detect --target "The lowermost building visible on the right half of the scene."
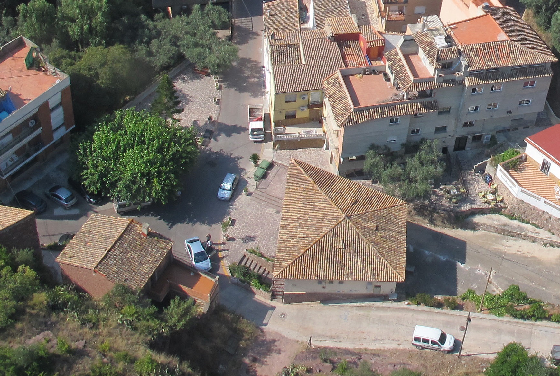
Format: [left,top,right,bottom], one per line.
[268,157,407,301]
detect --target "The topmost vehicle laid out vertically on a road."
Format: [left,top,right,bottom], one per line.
[248,98,265,137]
